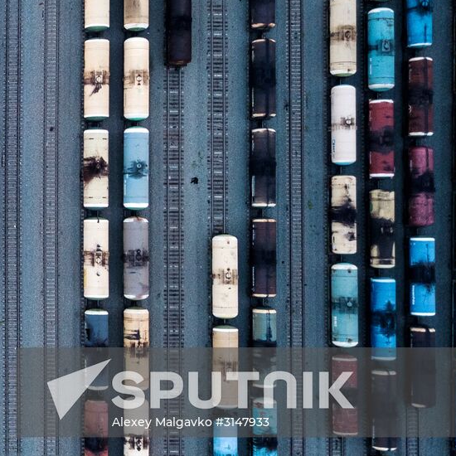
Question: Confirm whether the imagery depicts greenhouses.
No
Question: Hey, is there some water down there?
No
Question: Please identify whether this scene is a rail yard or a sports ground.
rail yard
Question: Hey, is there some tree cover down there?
No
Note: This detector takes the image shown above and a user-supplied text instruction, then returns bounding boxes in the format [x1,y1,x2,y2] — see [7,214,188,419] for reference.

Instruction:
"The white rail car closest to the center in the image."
[209,230,238,321]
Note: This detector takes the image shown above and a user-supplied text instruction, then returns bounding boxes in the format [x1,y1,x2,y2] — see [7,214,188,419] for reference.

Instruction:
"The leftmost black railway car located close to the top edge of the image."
[166,0,191,71]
